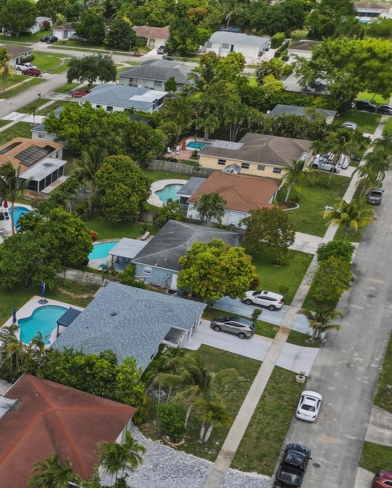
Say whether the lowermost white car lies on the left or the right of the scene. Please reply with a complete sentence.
The lowermost white car sits on the right side.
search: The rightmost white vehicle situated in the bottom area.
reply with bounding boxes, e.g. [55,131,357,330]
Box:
[293,389,324,425]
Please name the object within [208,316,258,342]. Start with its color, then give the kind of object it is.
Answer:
gray car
